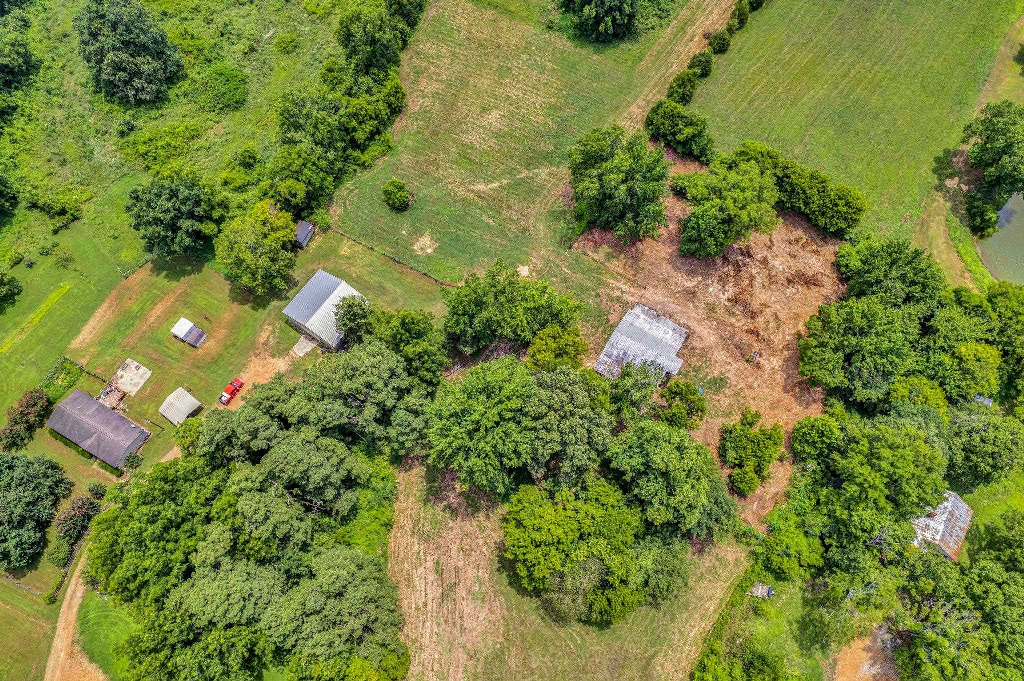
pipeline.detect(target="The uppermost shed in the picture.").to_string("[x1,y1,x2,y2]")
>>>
[288,218,313,248]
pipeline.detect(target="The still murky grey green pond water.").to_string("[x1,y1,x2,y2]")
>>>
[975,194,1024,292]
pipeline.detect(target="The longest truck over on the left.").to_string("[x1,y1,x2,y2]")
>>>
[218,376,246,407]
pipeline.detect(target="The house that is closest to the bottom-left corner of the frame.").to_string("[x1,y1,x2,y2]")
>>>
[48,388,154,469]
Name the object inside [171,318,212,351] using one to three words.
shed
